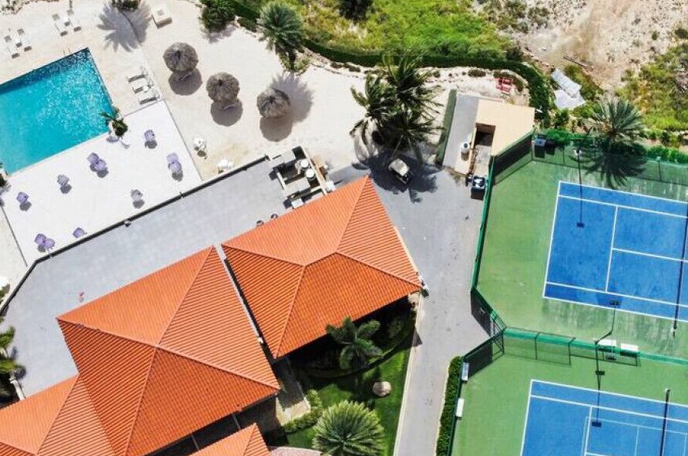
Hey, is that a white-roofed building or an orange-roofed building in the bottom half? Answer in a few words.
orange-roofed building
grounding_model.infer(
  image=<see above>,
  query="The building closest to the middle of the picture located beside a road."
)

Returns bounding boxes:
[220,176,424,357]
